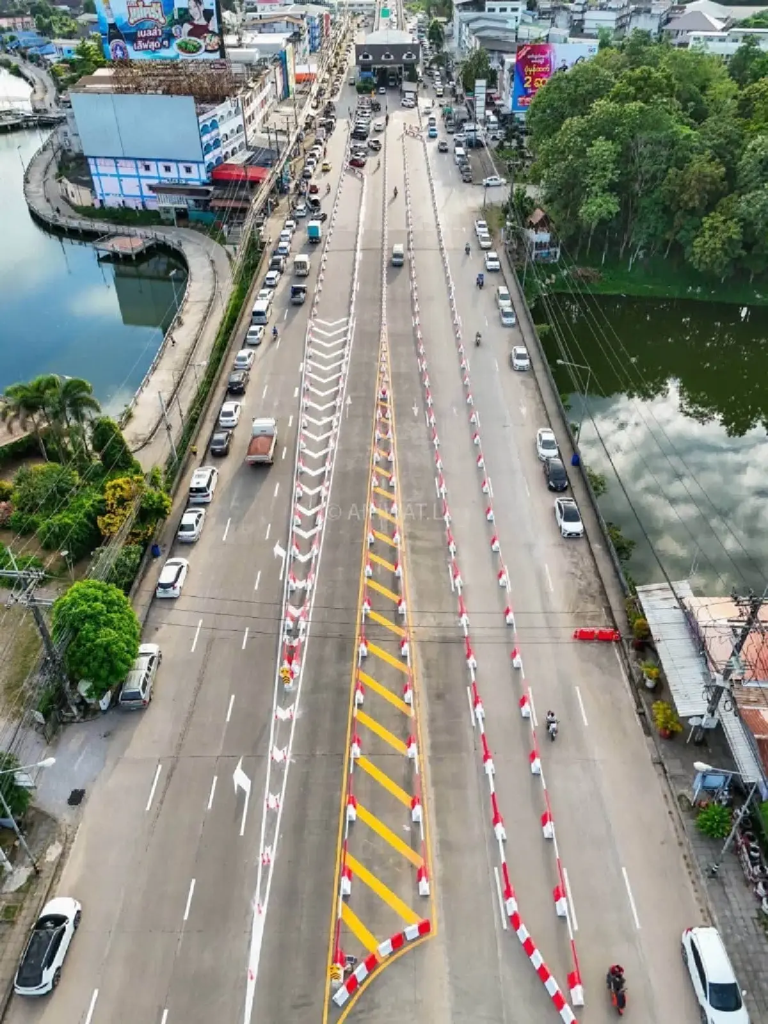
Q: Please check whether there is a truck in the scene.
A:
Yes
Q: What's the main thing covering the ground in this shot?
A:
paved ground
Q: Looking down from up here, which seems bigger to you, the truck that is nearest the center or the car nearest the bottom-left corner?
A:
the car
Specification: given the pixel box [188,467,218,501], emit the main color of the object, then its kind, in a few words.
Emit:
white car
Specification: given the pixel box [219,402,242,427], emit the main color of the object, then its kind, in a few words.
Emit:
white car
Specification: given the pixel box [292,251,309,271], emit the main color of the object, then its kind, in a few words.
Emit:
white vehicle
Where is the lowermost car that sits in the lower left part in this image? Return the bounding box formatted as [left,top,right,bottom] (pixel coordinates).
[10,895,82,1002]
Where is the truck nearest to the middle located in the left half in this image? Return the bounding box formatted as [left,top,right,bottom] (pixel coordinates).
[245,414,277,460]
